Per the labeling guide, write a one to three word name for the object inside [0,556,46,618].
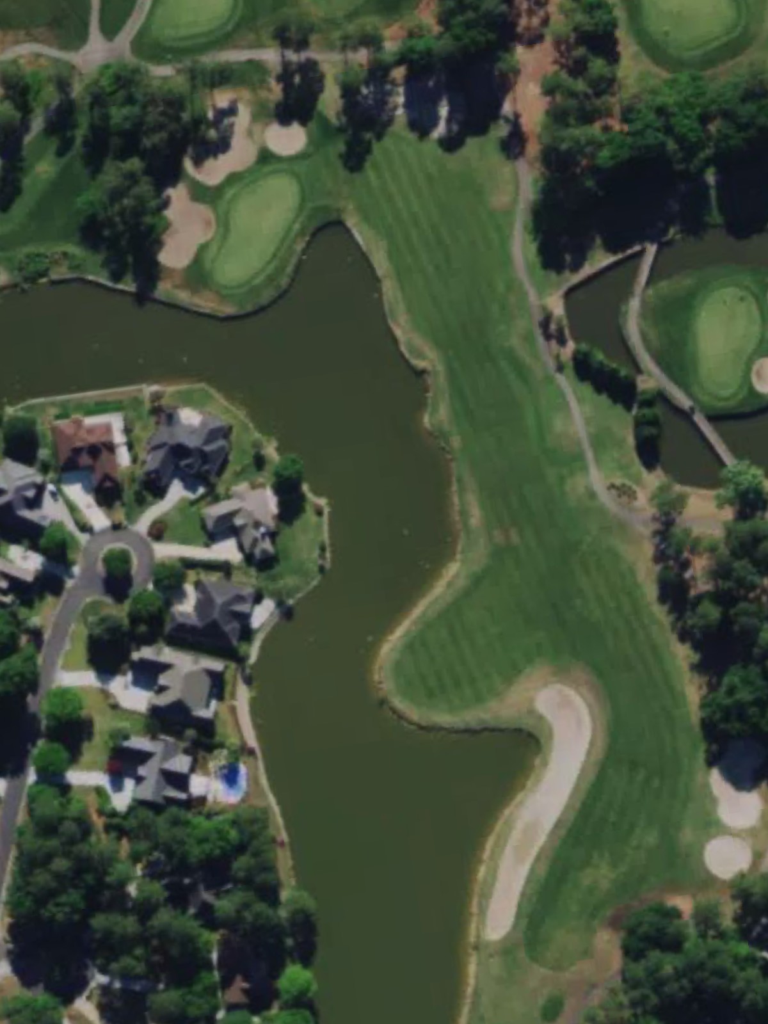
house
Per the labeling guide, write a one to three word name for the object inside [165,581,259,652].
house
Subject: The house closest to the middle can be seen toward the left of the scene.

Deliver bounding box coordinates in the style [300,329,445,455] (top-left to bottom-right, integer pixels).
[197,479,284,566]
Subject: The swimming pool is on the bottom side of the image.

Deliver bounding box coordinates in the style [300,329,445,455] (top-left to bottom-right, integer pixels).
[216,760,246,799]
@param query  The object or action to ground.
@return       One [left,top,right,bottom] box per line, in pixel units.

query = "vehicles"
[688,403,695,411]
[47,483,58,498]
